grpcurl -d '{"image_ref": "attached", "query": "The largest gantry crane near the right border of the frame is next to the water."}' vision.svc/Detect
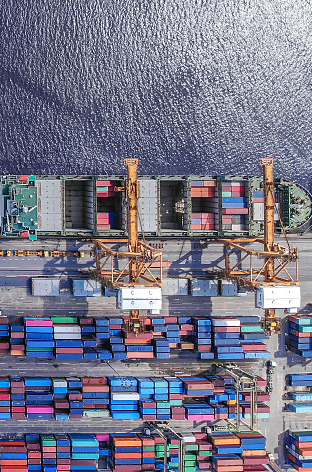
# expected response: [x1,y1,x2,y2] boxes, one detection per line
[210,154,306,341]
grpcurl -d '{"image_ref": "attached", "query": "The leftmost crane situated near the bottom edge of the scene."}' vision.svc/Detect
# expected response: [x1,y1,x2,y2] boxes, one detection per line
[144,420,185,472]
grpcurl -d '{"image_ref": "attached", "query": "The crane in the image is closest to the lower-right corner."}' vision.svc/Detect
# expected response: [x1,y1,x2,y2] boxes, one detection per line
[211,363,259,434]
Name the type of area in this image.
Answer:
port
